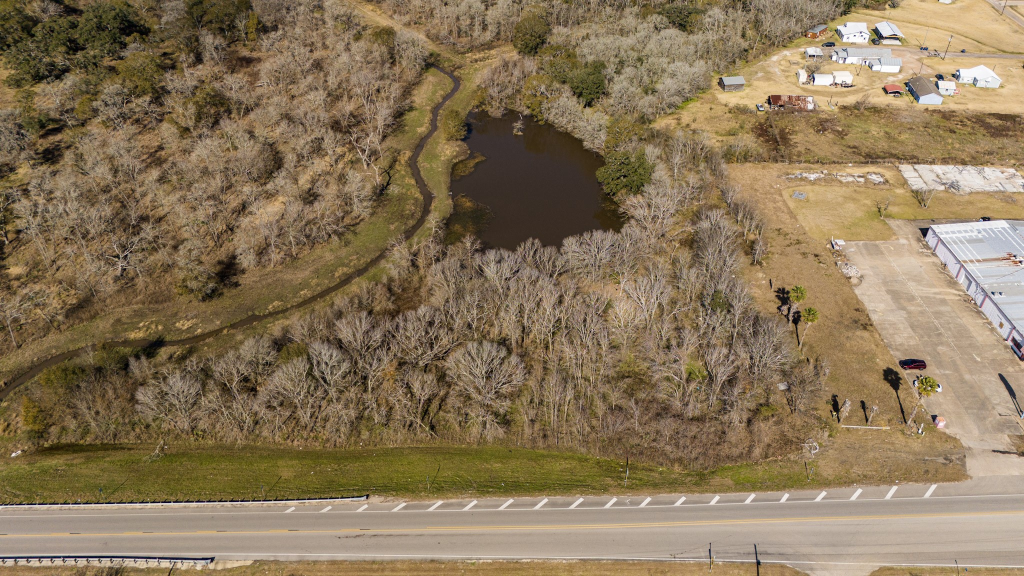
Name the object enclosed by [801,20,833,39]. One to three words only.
building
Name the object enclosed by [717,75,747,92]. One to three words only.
shed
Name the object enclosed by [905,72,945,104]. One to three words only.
house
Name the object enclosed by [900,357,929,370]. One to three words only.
vehicle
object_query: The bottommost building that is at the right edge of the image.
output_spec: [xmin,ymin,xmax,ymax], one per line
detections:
[925,218,1024,363]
